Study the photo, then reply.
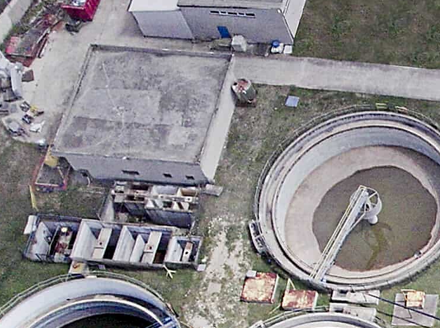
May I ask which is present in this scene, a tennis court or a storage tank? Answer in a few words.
storage tank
